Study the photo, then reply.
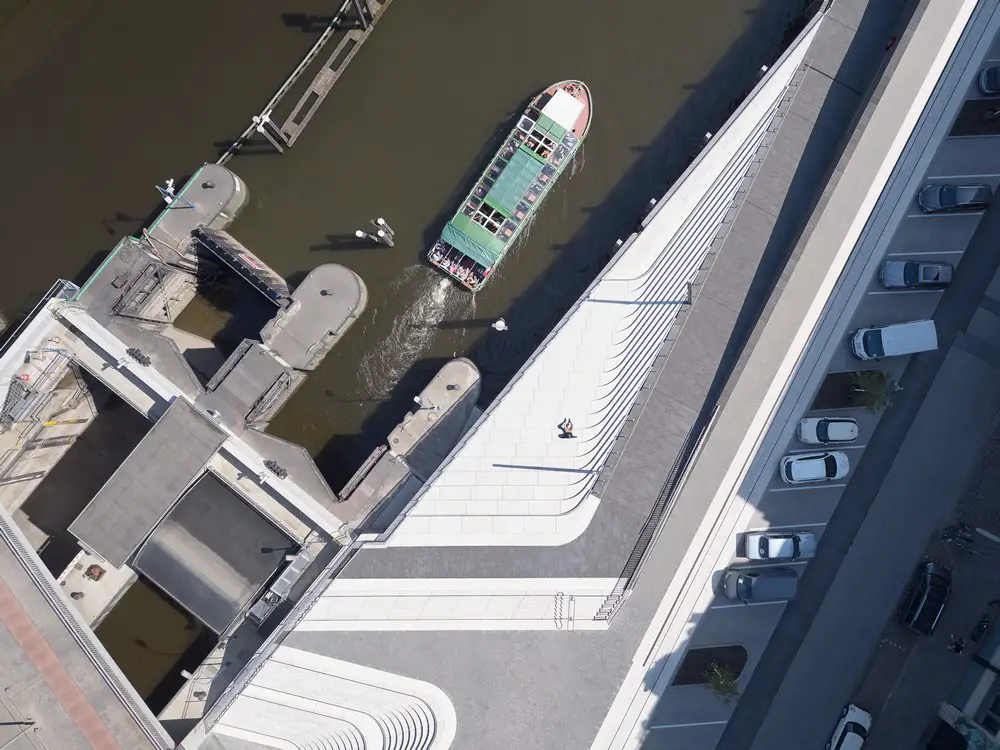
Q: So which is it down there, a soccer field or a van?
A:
van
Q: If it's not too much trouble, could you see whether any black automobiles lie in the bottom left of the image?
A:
No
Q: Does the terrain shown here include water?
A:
Yes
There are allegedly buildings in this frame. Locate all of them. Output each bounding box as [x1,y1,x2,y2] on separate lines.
[898,615,1000,750]
[66,396,234,568]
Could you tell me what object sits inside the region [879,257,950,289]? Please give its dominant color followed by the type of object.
blue car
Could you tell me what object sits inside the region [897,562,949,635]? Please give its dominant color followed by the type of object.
black car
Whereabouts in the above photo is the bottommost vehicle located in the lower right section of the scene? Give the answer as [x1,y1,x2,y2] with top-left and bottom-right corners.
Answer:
[819,703,869,750]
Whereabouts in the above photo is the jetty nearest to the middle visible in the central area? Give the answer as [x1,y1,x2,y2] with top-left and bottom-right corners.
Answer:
[388,357,481,471]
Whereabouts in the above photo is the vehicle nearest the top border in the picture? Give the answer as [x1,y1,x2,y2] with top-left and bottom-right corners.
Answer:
[976,67,1000,97]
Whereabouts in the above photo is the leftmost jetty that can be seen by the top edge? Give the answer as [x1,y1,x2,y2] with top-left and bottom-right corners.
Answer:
[281,24,376,150]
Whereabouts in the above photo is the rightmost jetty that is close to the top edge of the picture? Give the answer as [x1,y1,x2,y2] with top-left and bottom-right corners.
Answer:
[361,0,399,31]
